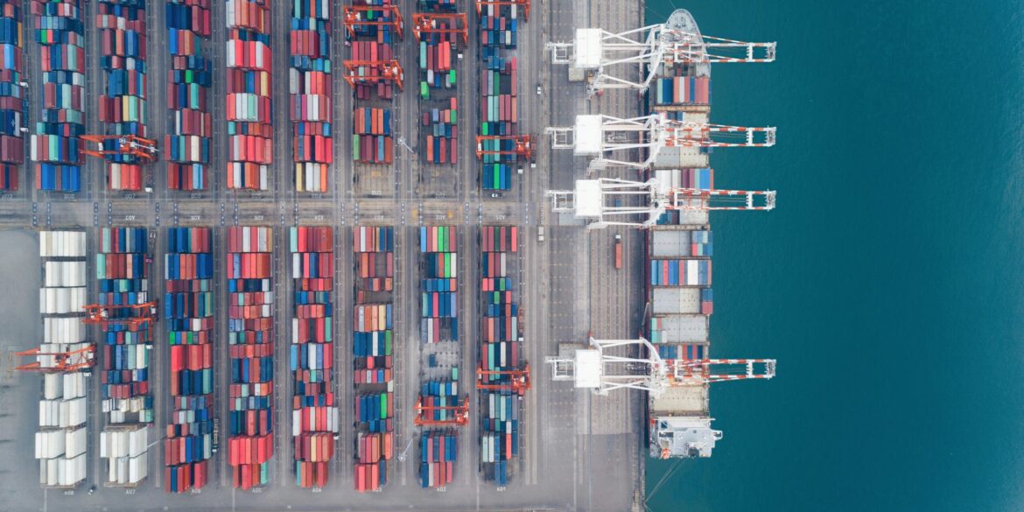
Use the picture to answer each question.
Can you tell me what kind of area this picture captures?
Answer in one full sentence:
This image shows a port.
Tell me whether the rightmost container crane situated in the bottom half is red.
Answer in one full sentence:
No, the rightmost container crane situated in the bottom half is actually white.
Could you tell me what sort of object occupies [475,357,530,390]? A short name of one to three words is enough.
container crane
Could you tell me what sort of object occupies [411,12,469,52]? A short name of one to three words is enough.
container crane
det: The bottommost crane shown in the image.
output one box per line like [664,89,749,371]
[411,391,469,425]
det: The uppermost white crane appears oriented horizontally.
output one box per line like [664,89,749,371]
[546,27,775,101]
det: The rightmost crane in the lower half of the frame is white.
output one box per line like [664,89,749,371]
[546,330,775,395]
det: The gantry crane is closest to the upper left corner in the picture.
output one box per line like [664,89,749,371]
[80,132,158,165]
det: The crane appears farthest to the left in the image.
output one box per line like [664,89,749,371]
[14,340,97,372]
